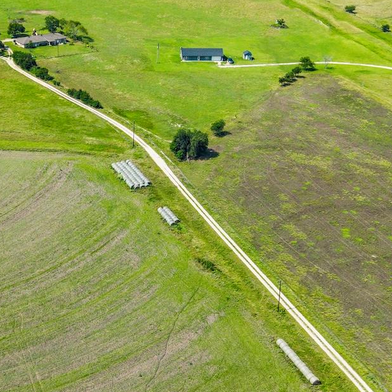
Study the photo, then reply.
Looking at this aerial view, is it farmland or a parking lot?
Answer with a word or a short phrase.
farmland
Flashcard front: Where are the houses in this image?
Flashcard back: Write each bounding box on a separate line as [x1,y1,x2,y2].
[179,45,223,61]
[16,29,68,48]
